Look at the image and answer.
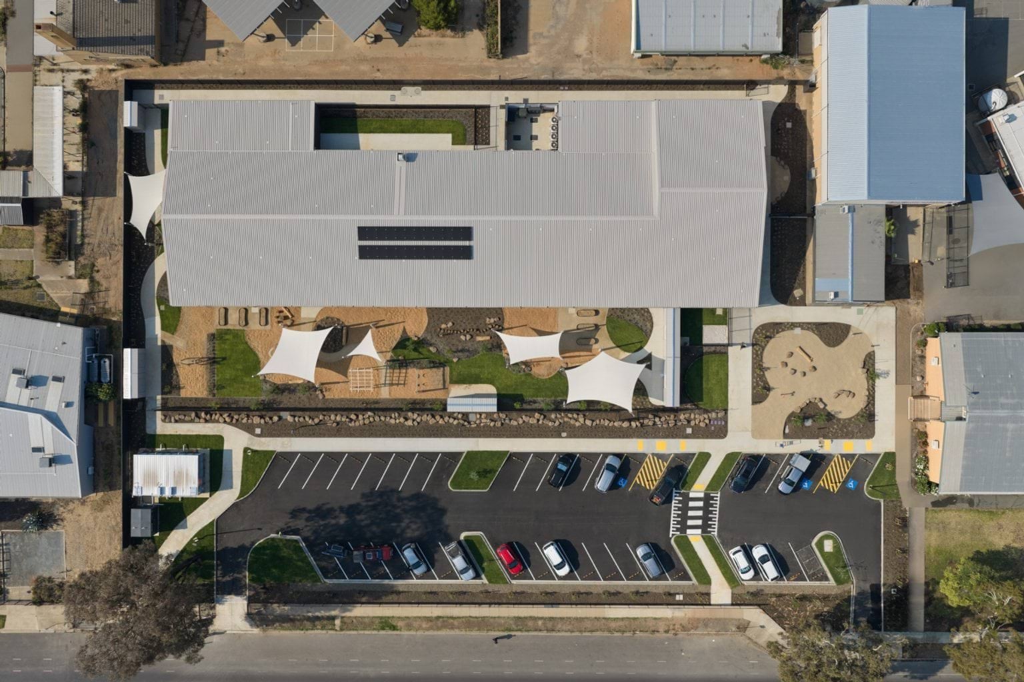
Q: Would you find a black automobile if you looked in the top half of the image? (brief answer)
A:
No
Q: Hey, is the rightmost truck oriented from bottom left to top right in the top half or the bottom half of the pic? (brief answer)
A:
bottom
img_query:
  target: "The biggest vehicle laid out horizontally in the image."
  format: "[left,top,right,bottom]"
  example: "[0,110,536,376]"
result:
[351,546,394,565]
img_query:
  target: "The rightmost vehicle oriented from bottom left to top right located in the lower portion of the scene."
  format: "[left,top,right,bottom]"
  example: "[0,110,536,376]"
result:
[778,452,812,495]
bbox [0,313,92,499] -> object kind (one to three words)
house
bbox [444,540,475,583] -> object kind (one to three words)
truck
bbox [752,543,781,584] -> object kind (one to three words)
car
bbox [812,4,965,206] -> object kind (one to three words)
building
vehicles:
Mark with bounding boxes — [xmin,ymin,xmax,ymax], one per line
[636,542,664,581]
[351,546,394,565]
[648,464,686,508]
[595,454,620,495]
[547,453,572,489]
[730,456,758,495]
[752,543,781,584]
[728,545,753,581]
[444,540,475,583]
[495,542,522,576]
[542,540,570,577]
[778,452,812,495]
[401,541,427,576]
